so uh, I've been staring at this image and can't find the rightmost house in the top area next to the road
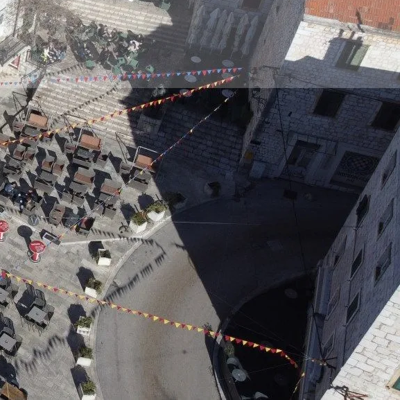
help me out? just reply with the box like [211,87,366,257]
[248,0,400,196]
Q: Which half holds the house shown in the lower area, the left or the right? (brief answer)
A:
right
